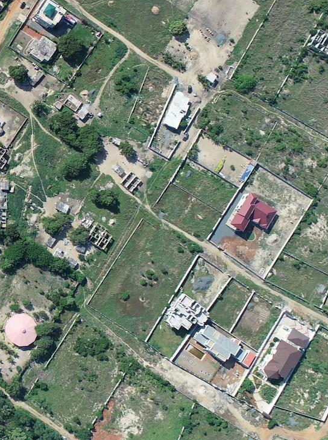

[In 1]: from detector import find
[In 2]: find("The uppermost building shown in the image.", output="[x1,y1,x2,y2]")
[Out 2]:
[33,0,64,28]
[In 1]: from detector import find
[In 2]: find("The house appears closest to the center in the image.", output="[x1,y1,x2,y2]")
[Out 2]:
[118,170,144,193]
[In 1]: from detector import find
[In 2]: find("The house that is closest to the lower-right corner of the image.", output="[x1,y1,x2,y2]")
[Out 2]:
[257,327,311,381]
